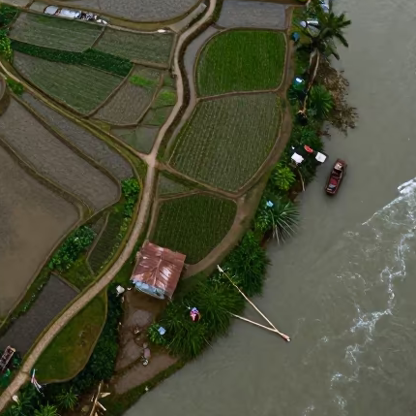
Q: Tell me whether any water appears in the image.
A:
Yes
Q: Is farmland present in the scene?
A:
Yes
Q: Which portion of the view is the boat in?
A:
right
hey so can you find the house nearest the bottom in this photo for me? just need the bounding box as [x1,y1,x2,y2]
[125,242,188,309]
